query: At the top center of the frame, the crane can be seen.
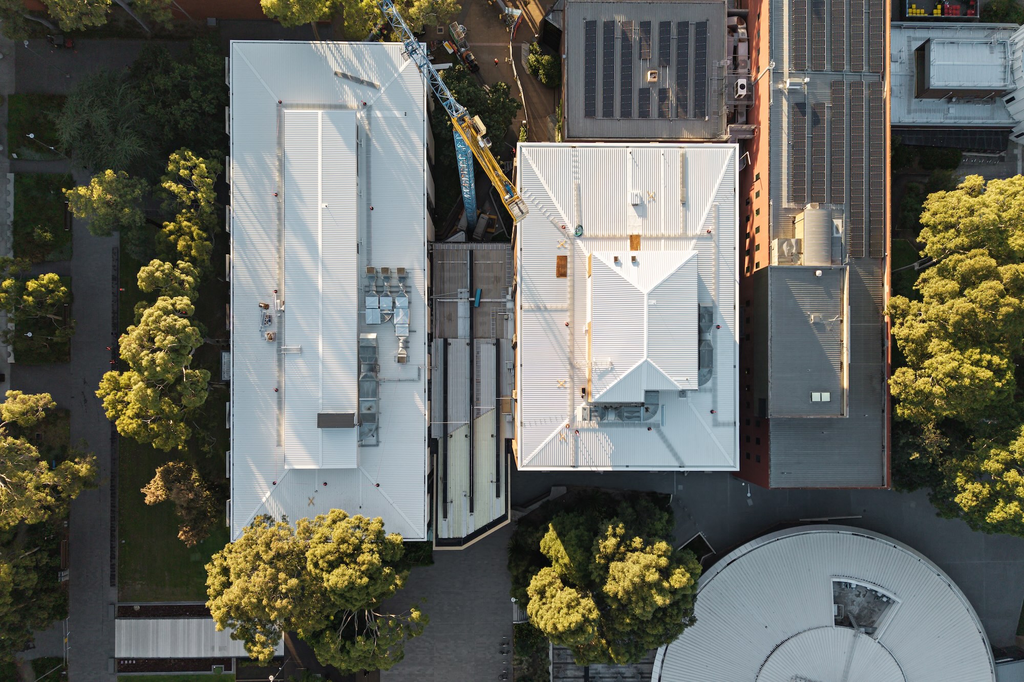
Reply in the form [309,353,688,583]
[376,0,532,237]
